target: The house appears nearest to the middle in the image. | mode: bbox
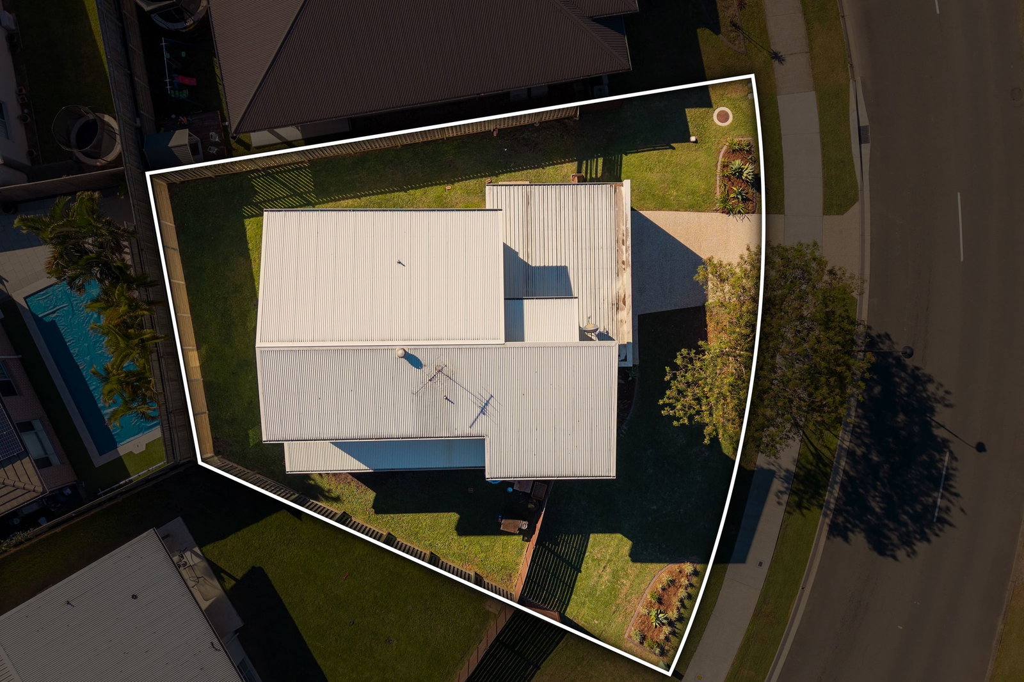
[257,179,632,480]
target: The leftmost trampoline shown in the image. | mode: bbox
[48,100,123,169]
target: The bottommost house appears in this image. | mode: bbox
[0,519,287,682]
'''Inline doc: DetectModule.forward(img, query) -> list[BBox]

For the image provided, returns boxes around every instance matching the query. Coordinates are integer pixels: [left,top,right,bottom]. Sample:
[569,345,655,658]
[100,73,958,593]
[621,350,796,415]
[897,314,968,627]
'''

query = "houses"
[257,179,632,480]
[210,0,641,136]
[0,312,76,520]
[0,519,287,682]
[0,0,31,171]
